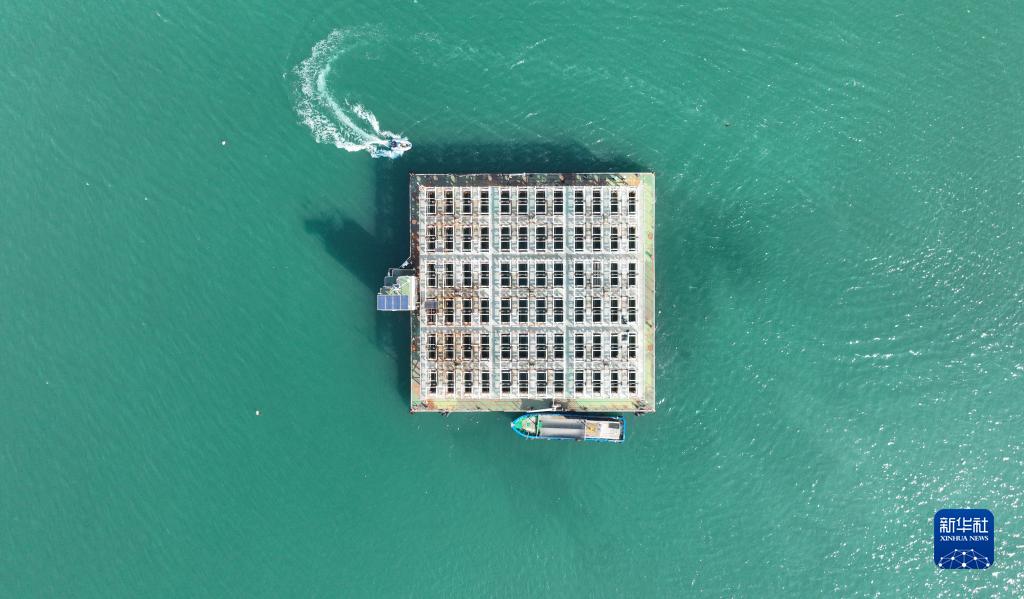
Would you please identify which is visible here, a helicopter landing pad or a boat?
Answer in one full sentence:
Visible in the photo is a boat.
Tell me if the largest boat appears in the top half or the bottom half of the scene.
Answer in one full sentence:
It is in the bottom half that the largest boat appears.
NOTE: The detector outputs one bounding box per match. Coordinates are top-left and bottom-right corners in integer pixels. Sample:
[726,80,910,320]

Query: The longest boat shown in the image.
[511,412,626,441]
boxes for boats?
[511,412,626,441]
[388,139,412,150]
